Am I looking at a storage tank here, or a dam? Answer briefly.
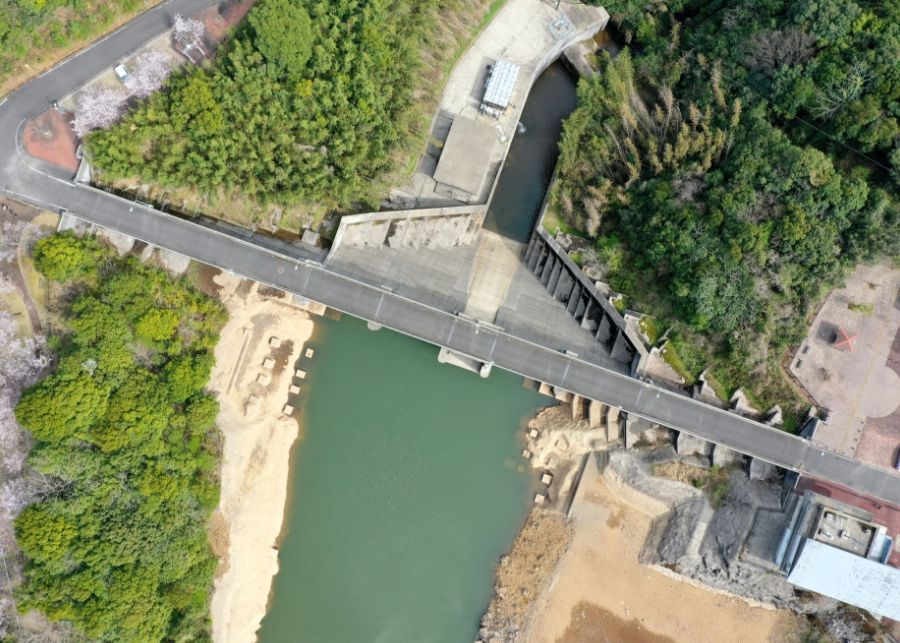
dam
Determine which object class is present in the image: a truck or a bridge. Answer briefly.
bridge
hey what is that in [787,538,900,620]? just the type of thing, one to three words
building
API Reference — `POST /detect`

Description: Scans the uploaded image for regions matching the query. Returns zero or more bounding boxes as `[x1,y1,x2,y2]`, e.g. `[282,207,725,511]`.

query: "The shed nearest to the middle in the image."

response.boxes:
[434,115,497,206]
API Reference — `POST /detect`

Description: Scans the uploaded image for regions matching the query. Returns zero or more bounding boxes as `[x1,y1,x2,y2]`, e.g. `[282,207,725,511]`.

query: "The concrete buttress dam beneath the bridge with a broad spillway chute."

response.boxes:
[77,210,782,477]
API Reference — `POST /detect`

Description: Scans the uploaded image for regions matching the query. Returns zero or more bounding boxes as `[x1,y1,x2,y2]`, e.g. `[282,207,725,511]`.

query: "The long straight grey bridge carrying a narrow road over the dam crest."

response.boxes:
[66,183,813,473]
